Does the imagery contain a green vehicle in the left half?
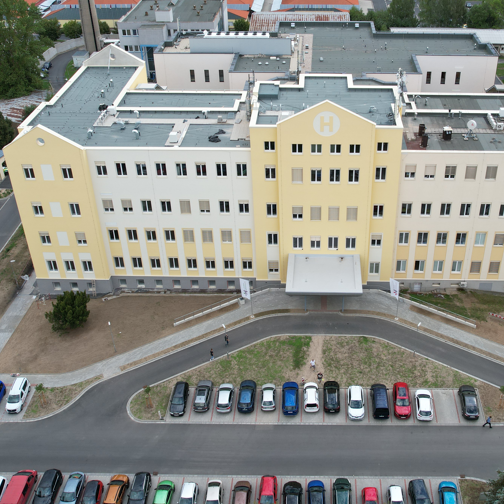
Yes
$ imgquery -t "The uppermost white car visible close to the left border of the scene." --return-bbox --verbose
[5,379,33,413]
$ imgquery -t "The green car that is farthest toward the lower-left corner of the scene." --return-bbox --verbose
[152,481,175,504]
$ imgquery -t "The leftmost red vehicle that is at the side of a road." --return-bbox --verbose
[1,471,37,504]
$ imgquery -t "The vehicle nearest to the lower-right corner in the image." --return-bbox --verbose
[440,483,463,504]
